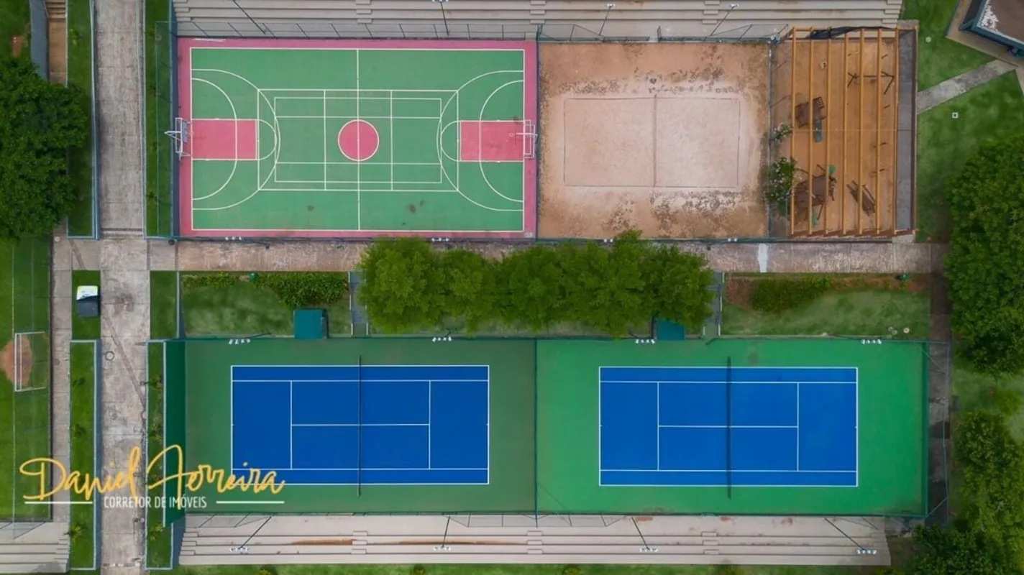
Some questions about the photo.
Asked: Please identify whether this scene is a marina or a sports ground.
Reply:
sports ground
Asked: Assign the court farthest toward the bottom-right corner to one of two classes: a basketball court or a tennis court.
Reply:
tennis court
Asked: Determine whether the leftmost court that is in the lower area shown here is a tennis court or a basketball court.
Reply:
tennis court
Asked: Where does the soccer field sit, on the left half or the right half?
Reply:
left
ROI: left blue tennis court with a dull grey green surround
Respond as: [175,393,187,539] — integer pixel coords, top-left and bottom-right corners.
[185,339,536,513]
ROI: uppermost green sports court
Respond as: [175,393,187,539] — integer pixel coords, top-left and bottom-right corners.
[178,38,537,237]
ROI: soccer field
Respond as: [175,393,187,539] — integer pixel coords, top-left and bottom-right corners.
[0,233,50,520]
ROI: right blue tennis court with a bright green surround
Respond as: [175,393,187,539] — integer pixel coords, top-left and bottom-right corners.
[538,340,926,516]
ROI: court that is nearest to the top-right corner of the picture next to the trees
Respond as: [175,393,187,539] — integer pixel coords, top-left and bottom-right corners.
[540,41,769,238]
